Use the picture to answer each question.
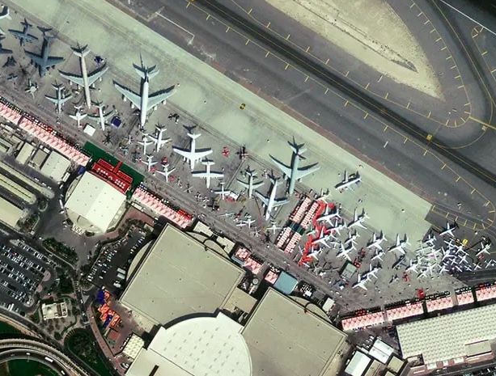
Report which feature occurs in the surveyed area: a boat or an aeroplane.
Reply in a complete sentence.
The image shows an aeroplane.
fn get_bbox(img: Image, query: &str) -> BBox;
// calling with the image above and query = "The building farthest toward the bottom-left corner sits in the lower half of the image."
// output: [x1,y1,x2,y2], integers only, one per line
[43,303,67,320]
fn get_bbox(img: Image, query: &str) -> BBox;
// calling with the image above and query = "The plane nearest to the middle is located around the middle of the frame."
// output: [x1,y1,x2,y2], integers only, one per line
[235,170,264,198]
